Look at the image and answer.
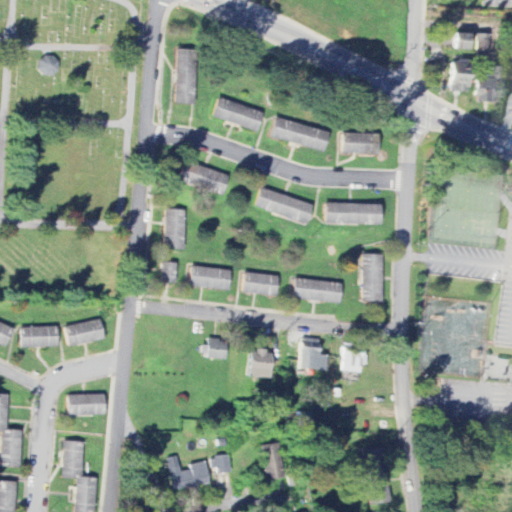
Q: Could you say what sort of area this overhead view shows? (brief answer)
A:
residential area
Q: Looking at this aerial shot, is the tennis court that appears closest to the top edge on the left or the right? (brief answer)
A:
right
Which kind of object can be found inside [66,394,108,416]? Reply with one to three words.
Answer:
house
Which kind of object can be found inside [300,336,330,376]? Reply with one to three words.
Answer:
house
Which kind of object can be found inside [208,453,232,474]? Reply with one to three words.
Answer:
building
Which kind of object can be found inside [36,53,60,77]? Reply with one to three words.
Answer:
gazebo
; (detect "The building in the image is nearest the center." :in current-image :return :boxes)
[242,272,280,296]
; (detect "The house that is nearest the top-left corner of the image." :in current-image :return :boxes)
[177,48,198,104]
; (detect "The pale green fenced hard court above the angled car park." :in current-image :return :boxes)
[429,172,504,249]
